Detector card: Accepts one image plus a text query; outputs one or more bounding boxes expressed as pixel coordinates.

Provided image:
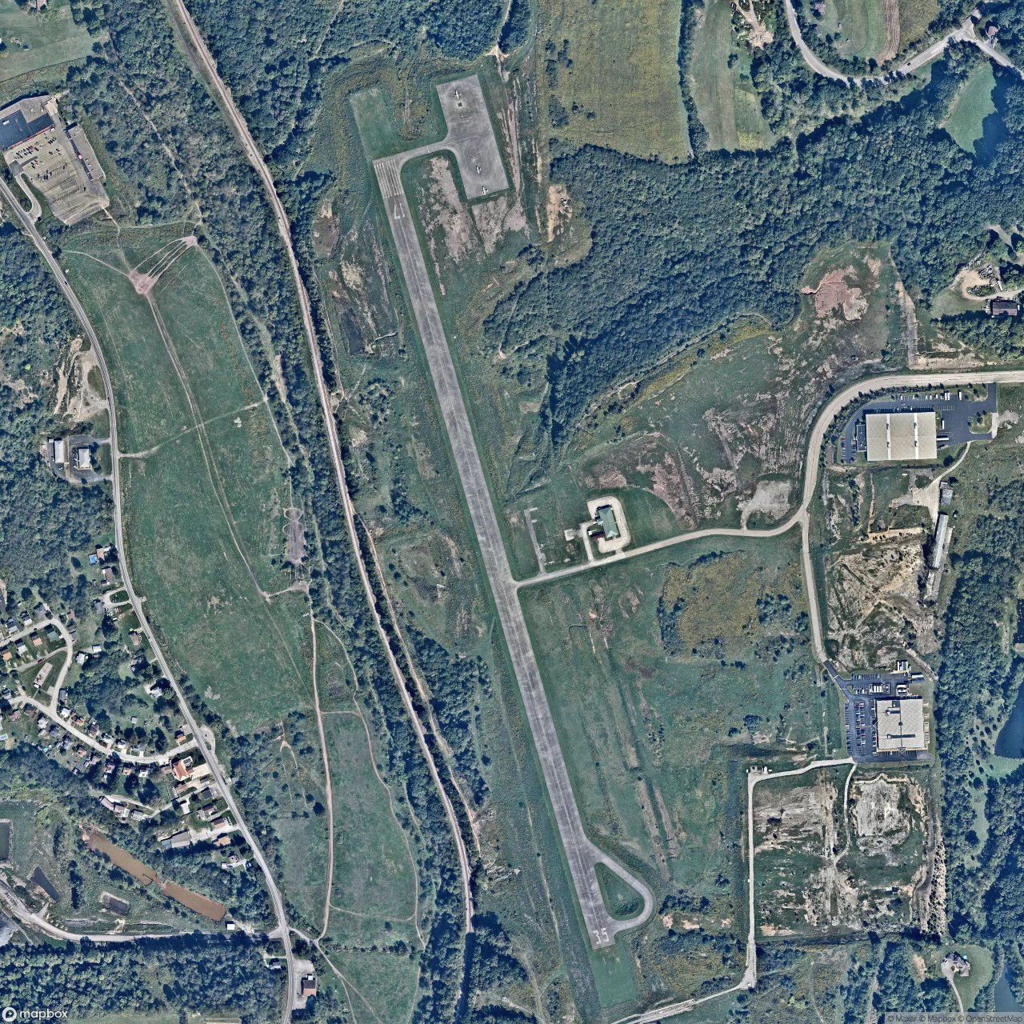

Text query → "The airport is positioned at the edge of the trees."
[373,75,653,950]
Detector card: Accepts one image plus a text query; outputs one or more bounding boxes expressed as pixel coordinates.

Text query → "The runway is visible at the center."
[373,154,615,950]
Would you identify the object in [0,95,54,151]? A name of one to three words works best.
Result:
building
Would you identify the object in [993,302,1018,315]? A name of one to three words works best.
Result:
building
